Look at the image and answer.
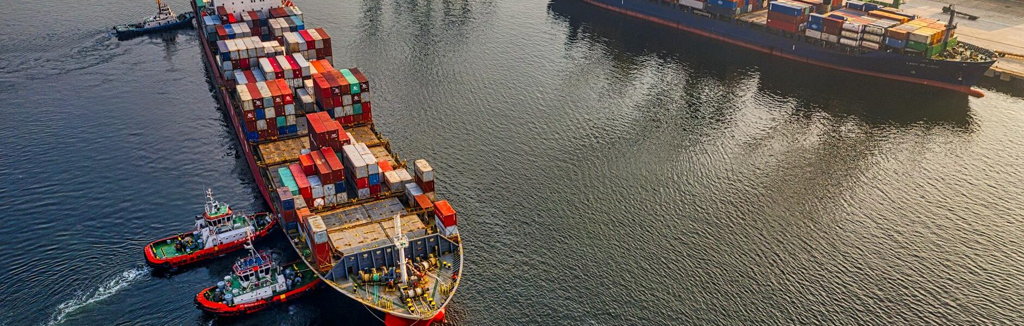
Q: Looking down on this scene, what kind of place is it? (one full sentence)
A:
What you see here is a port.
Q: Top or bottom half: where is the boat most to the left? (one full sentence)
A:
The top half of the photo is where the boat most to the left is.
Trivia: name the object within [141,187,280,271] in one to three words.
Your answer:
boat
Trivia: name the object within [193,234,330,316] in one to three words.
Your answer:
boat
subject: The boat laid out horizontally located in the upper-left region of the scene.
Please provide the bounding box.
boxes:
[112,0,196,38]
